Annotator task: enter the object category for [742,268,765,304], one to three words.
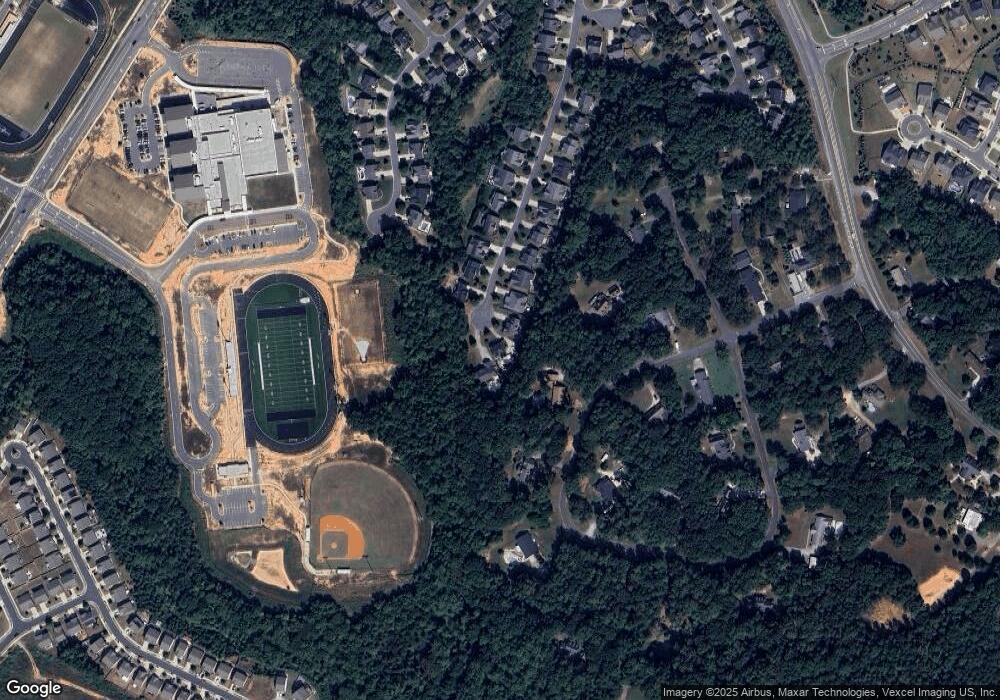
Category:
house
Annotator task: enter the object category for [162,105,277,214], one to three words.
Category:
building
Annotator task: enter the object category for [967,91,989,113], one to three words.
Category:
house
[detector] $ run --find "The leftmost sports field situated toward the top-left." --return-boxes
[0,0,98,144]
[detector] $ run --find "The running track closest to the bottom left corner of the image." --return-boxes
[233,273,338,453]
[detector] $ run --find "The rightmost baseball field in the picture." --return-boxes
[310,460,416,570]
